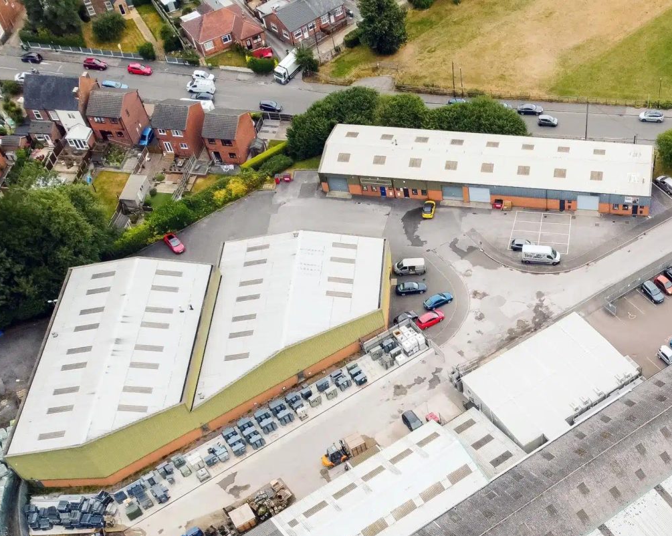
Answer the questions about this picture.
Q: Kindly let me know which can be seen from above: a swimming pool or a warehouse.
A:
warehouse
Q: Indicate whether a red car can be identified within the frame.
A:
Yes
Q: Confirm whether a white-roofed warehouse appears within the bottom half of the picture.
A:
Yes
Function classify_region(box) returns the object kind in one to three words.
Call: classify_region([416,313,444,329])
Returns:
car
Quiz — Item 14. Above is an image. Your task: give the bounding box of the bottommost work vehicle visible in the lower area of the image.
[324,437,351,469]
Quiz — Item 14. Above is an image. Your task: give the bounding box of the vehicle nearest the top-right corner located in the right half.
[639,109,664,123]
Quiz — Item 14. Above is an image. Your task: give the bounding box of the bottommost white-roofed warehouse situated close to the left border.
[5,256,216,481]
